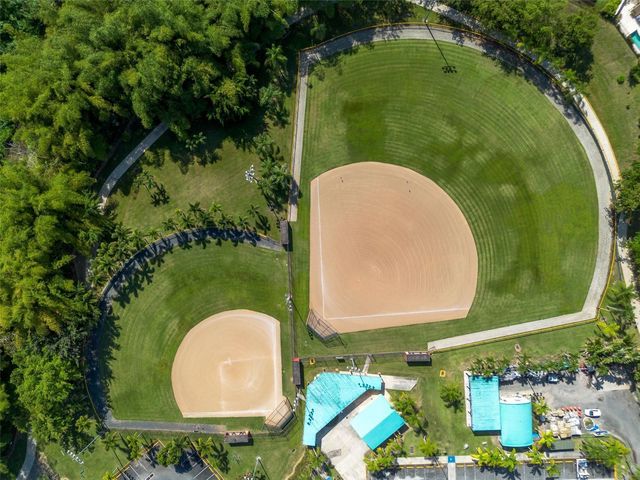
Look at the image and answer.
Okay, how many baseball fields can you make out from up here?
2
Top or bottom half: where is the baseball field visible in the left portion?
bottom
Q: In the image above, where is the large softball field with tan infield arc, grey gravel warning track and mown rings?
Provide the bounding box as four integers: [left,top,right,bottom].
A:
[289,25,612,358]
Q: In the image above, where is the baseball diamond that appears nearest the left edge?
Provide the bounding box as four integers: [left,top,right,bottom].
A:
[88,229,297,434]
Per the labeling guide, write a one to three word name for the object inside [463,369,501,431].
building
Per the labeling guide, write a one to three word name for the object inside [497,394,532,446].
building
